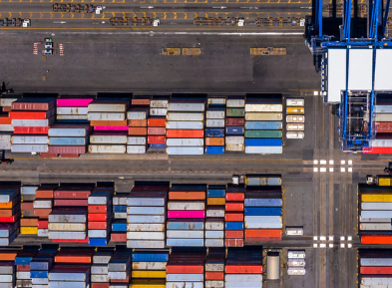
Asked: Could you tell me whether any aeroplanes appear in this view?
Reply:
No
